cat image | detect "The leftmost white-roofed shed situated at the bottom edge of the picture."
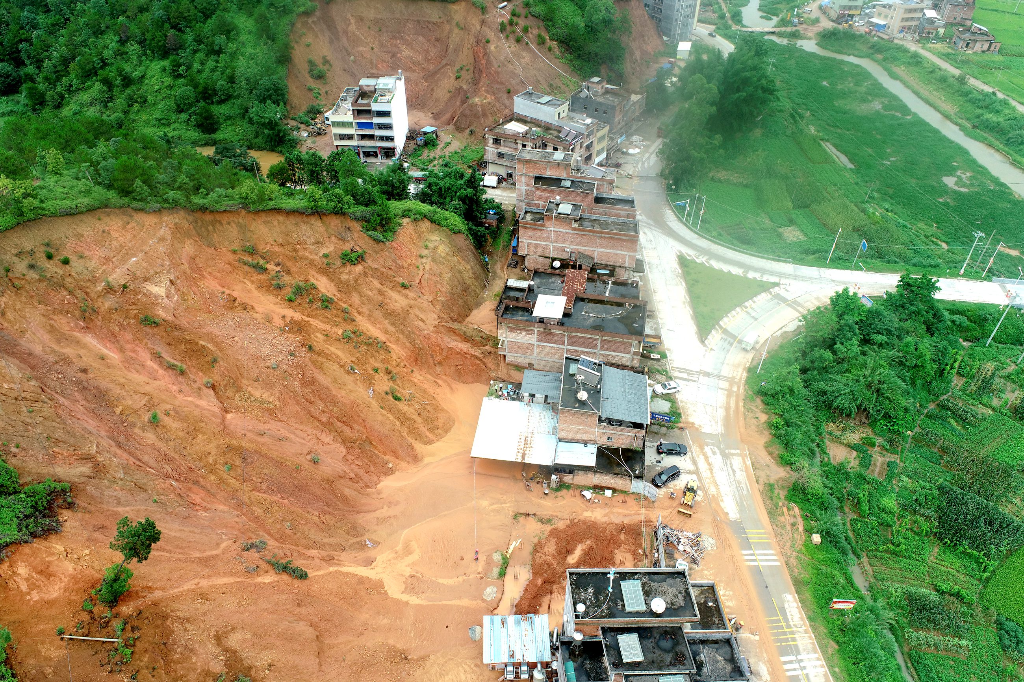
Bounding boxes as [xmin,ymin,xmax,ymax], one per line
[483,614,551,675]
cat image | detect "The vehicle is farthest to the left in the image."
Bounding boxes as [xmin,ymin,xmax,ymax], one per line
[303,120,327,137]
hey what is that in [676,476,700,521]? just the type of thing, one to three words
work vehicle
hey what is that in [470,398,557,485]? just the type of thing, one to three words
shed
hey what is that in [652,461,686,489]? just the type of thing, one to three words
car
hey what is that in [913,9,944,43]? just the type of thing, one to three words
house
